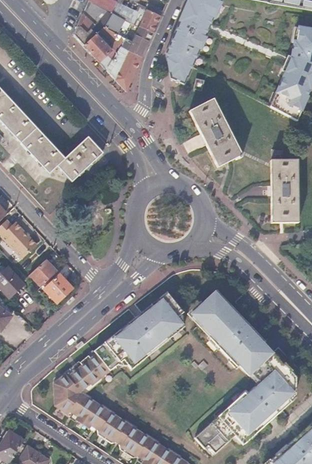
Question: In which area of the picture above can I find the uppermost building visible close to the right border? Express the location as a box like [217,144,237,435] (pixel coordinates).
[270,24,312,120]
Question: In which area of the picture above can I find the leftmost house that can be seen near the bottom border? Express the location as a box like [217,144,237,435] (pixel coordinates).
[0,430,24,464]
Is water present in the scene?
No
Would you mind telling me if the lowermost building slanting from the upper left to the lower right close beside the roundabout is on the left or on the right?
right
